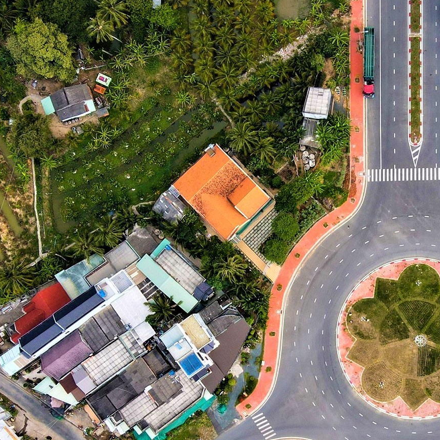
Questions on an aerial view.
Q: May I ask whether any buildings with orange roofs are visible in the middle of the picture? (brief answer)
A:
Yes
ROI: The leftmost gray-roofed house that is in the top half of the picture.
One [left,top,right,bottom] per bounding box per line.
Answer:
[42,84,112,122]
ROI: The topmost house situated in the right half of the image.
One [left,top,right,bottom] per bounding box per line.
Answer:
[299,86,332,152]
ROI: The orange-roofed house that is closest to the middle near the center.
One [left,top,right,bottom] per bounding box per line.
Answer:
[153,143,274,239]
